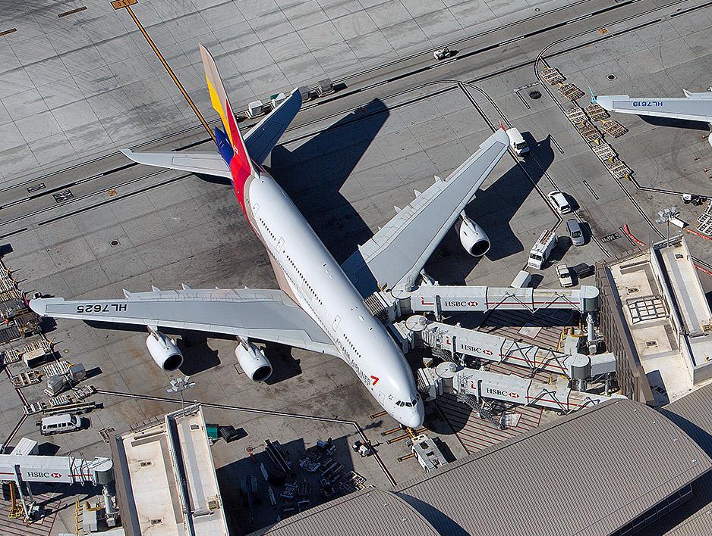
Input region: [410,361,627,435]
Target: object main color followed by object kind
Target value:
white jet bridge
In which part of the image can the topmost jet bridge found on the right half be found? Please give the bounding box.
[366,279,605,355]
